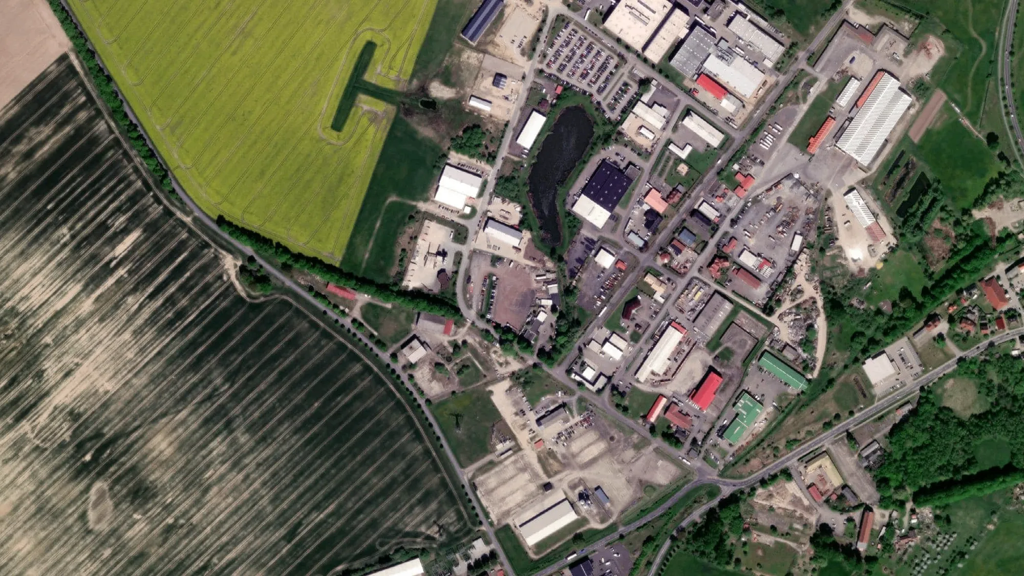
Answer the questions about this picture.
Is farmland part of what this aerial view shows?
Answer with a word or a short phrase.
Yes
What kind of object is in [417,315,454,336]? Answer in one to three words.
barn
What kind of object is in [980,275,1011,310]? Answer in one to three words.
building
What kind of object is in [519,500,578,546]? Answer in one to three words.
building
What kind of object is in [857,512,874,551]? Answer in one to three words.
barn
